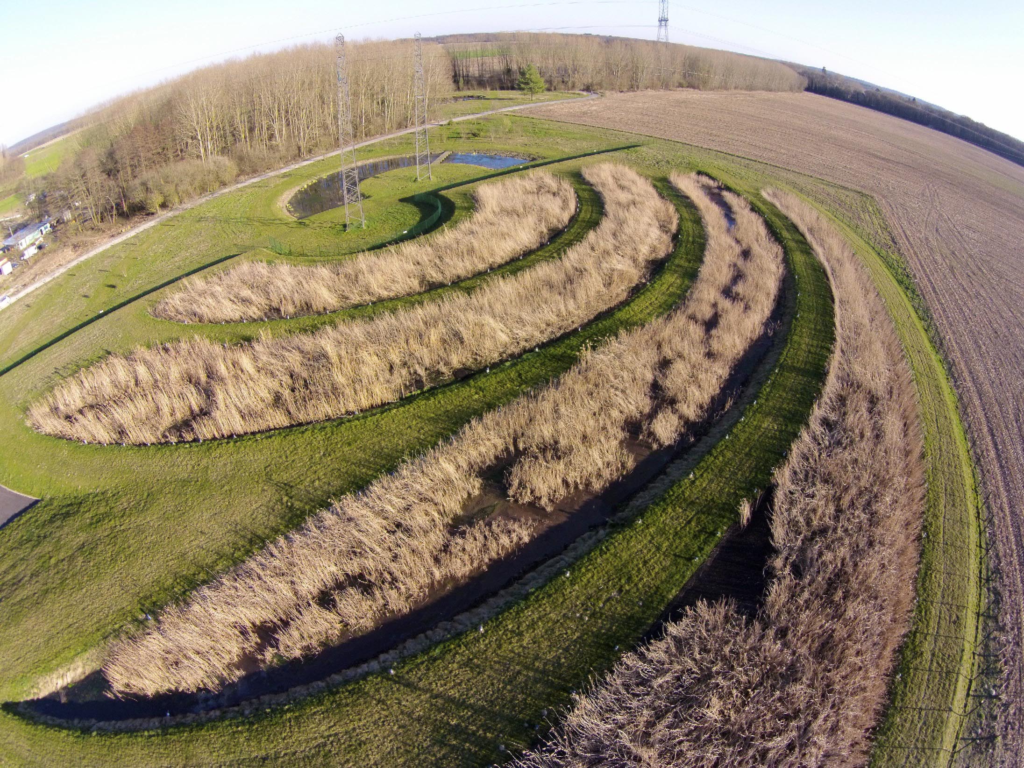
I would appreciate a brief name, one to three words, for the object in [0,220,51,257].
shed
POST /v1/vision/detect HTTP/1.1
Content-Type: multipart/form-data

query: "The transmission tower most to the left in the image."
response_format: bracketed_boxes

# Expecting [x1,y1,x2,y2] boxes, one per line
[339,39,368,230]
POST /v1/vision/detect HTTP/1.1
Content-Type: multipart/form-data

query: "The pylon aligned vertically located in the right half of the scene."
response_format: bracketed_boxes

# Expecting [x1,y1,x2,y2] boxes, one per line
[650,0,673,84]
